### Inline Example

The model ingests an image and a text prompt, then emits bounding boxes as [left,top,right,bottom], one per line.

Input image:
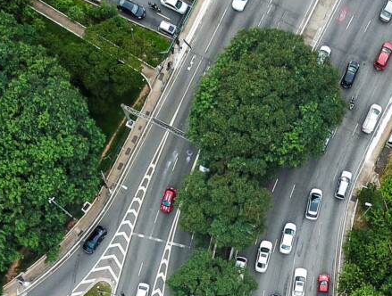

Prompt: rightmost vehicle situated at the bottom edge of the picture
[317,273,331,296]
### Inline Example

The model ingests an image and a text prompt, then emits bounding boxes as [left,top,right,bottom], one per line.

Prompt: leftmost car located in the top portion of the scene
[116,0,146,20]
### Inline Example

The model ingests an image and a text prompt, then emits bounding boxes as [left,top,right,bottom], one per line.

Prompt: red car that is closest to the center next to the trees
[159,184,178,214]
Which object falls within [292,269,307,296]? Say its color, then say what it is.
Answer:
white car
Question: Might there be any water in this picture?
No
